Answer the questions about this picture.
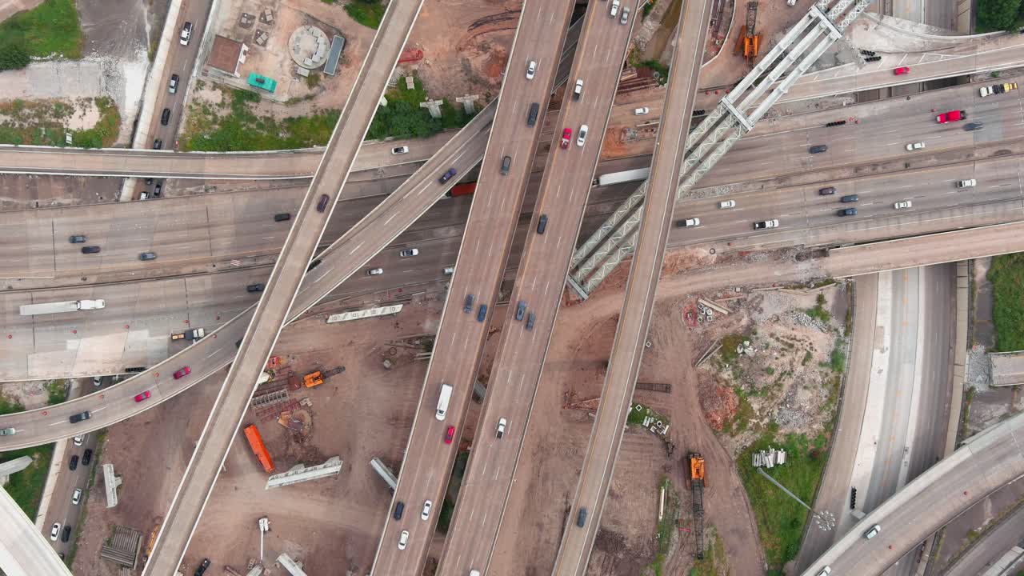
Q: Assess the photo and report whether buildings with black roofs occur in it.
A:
No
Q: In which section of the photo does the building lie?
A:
top left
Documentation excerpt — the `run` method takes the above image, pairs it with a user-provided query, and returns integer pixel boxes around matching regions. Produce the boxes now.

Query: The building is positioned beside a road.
[207,35,252,79]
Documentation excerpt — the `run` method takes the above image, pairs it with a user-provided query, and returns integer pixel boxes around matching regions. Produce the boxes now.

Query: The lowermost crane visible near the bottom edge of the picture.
[686,449,705,559]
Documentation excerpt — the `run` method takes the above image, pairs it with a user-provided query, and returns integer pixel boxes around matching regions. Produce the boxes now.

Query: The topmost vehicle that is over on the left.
[178,20,191,43]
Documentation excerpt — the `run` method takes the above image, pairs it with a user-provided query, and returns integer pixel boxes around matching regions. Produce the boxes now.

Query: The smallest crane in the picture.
[300,368,348,390]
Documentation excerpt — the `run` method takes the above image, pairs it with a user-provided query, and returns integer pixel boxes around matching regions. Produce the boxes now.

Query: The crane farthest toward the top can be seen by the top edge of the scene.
[732,0,762,61]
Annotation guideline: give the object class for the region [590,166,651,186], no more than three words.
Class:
vehicle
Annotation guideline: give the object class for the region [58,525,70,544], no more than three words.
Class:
vehicle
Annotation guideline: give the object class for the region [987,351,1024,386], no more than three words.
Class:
bridge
